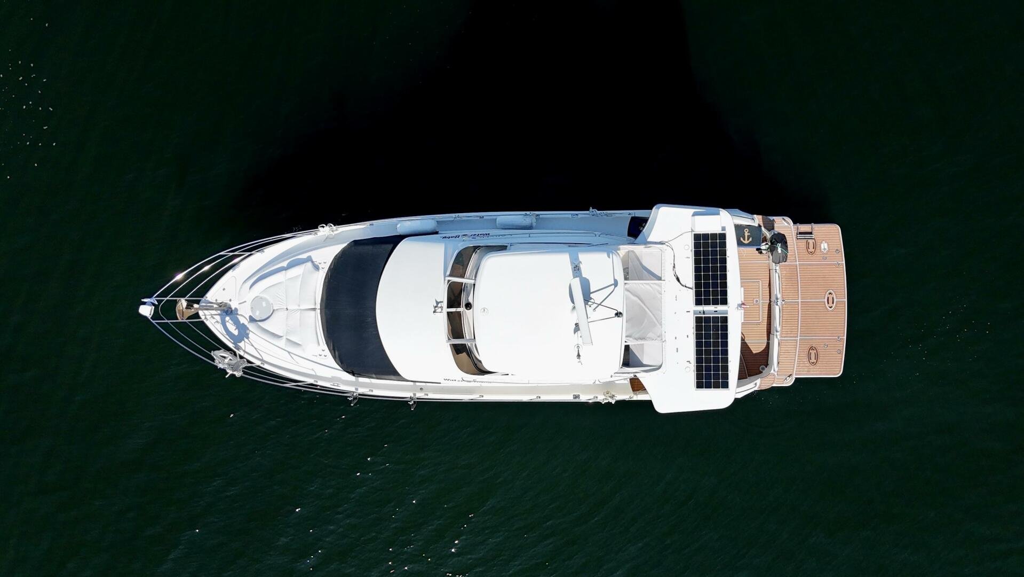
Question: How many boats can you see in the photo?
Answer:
1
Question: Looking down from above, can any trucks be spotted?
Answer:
No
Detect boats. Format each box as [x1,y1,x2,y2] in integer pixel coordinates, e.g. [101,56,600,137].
[139,205,846,412]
